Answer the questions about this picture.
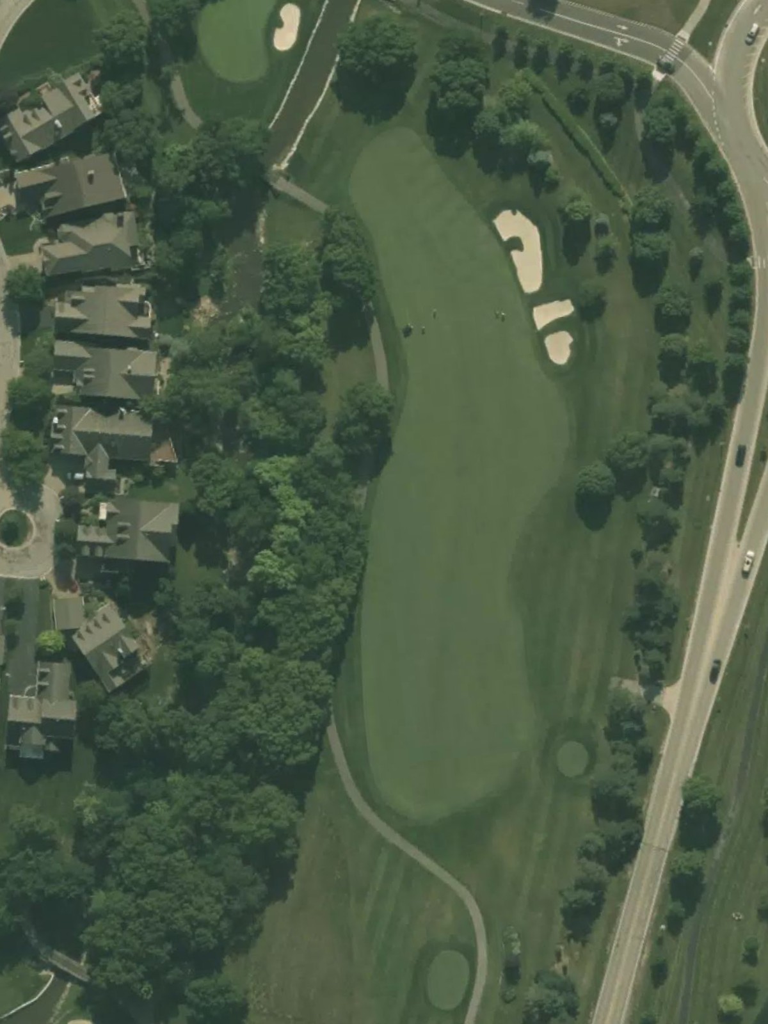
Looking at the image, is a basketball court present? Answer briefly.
No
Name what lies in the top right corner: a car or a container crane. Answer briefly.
car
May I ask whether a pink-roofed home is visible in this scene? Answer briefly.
No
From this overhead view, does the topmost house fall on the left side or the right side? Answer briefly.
left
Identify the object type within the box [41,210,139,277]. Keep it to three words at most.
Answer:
house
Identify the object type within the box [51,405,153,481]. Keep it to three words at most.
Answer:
house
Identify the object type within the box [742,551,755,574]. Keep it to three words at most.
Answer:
vehicle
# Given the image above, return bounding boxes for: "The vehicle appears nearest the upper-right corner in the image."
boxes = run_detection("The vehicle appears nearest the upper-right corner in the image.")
[744,21,761,44]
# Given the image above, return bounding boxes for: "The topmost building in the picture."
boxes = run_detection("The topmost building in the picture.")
[0,73,101,163]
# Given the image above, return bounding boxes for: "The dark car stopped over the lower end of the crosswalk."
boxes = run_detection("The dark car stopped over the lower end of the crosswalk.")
[656,56,677,73]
